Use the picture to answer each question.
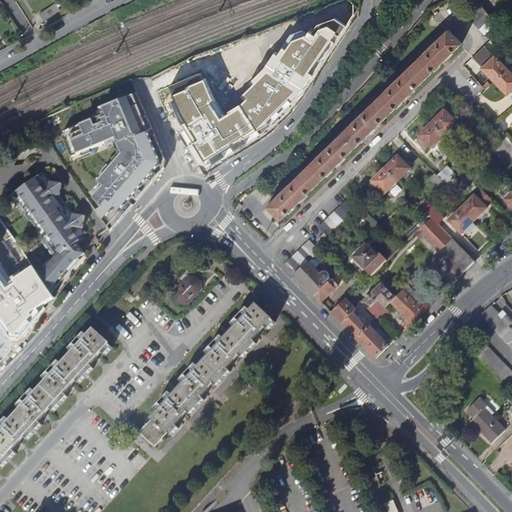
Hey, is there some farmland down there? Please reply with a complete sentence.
No, the picture contains no farmland.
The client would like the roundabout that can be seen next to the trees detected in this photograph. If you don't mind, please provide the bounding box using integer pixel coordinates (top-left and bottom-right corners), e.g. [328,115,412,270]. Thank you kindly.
[160,174,220,238]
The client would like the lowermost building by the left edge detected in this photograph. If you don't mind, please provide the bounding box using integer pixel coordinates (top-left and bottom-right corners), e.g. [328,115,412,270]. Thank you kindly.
[0,326,112,459]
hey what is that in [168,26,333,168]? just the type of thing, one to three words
building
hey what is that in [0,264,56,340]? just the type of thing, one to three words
building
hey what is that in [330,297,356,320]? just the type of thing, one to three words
house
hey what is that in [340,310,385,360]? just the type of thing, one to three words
house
